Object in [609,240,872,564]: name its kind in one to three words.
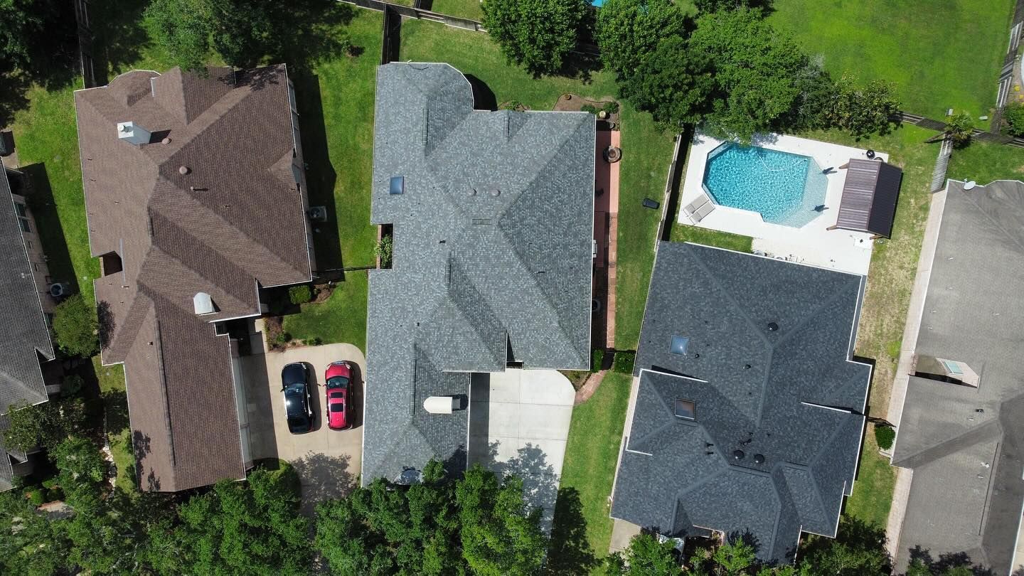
house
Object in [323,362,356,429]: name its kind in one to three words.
car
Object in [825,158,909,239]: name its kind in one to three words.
building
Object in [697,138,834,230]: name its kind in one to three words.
swimming pool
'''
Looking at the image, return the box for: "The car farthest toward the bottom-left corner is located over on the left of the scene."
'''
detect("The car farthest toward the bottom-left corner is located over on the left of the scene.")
[279,363,317,434]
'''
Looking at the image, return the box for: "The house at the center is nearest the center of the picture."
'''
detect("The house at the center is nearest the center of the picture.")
[361,62,596,490]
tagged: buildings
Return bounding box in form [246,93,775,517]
[825,158,909,239]
[877,179,1024,576]
[74,63,316,492]
[0,160,71,495]
[361,62,596,490]
[609,240,872,564]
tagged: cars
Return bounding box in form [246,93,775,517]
[279,363,317,434]
[323,362,356,429]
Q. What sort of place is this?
residential area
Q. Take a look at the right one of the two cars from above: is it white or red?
red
